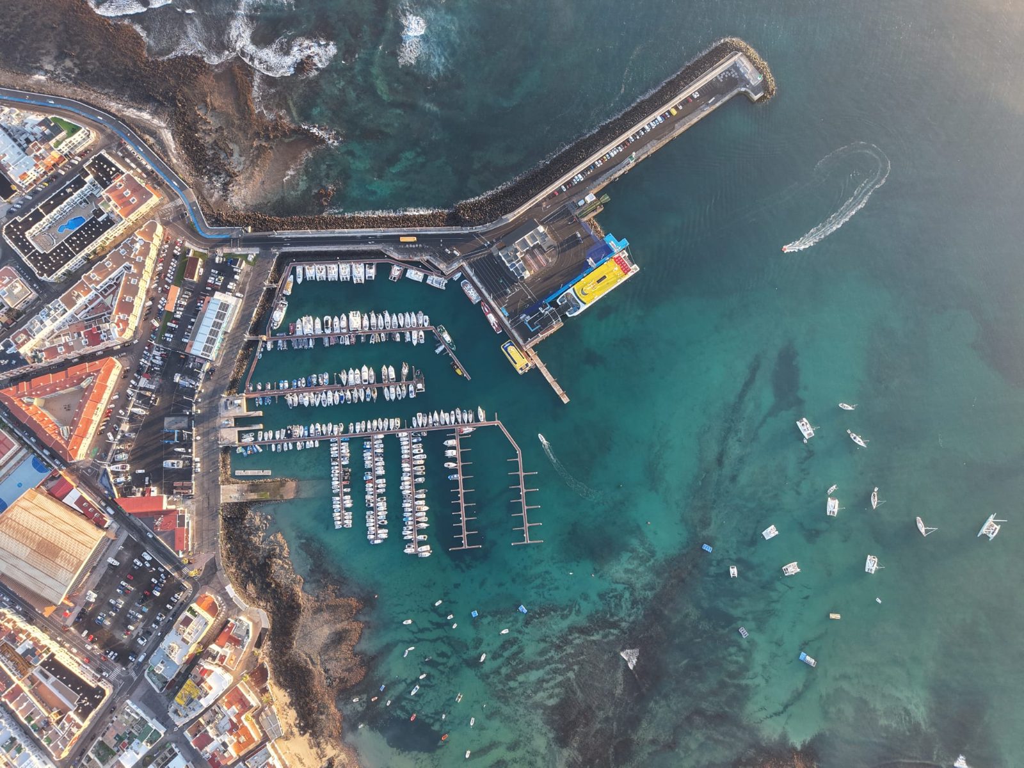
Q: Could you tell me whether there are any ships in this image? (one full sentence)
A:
Yes, there's a ship here.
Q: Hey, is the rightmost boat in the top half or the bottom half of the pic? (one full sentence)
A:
Seen from above, the rightmost boat lies in the bottom half of the view.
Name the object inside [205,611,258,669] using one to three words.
house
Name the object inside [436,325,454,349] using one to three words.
boat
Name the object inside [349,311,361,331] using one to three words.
boat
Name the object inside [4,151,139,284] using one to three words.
building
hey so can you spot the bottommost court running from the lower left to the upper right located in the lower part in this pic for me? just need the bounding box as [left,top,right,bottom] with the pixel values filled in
[0,454,52,513]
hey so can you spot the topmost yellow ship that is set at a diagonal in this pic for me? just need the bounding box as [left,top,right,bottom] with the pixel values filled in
[557,251,643,318]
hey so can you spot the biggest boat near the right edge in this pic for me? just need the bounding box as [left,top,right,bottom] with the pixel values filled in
[974,514,1014,544]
